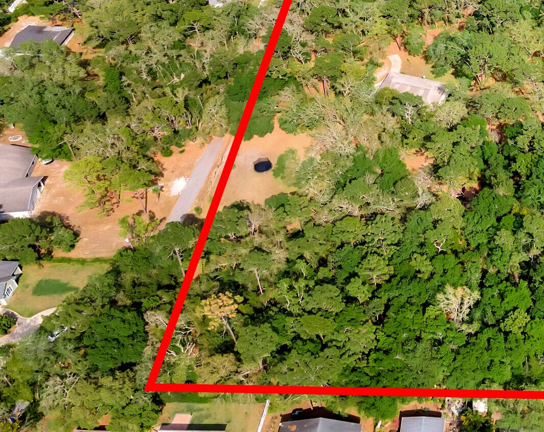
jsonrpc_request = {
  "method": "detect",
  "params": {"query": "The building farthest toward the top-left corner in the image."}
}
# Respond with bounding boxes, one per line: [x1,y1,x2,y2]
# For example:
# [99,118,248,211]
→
[10,28,72,54]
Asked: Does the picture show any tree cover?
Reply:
Yes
